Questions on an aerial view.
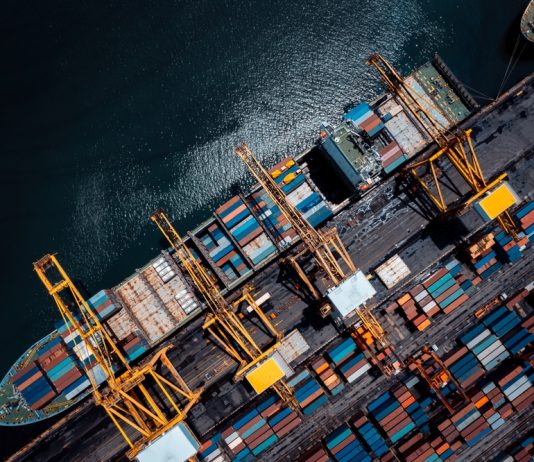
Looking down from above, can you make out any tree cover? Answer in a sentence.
No, the scene doesn't show any tree cover.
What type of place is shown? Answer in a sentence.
What you see here is a port.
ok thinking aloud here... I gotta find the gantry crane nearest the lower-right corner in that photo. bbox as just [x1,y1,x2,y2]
[405,339,471,415]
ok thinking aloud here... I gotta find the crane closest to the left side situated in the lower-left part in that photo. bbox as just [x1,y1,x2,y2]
[28,254,209,462]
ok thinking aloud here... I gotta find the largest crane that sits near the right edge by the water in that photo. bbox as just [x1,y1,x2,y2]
[366,49,523,252]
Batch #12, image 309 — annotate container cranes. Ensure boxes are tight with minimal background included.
[350,321,403,379]
[405,339,471,415]
[366,49,523,252]
[234,140,396,351]
[147,210,307,418]
[28,254,209,462]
